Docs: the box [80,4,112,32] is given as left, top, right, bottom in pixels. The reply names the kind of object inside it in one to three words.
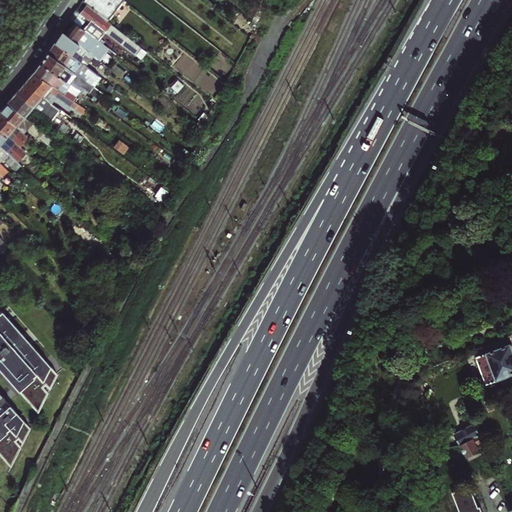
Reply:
house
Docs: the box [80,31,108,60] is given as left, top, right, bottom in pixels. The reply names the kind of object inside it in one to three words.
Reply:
house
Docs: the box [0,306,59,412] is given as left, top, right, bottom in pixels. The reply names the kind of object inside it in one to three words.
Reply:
building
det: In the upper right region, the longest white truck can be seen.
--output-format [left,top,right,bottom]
[362,116,384,150]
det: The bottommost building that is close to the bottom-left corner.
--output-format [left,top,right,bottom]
[0,405,32,467]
